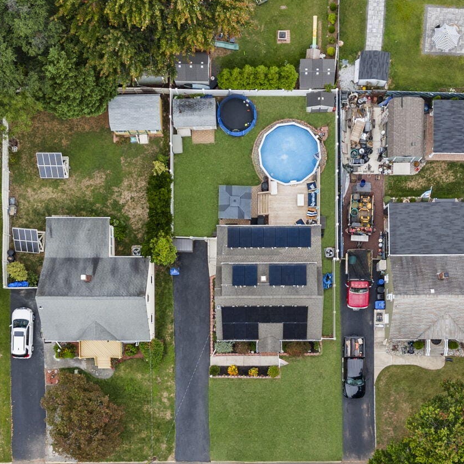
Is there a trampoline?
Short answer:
Yes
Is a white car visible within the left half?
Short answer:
Yes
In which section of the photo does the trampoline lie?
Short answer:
top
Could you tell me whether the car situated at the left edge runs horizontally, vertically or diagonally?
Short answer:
vertically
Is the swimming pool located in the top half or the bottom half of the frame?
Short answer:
top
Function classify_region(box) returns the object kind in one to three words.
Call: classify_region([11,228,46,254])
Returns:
solar array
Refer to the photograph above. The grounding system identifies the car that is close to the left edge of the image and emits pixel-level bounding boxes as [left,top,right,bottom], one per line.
[9,307,36,358]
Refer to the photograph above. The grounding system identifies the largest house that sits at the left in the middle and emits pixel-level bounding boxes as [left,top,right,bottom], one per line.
[33,216,156,342]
